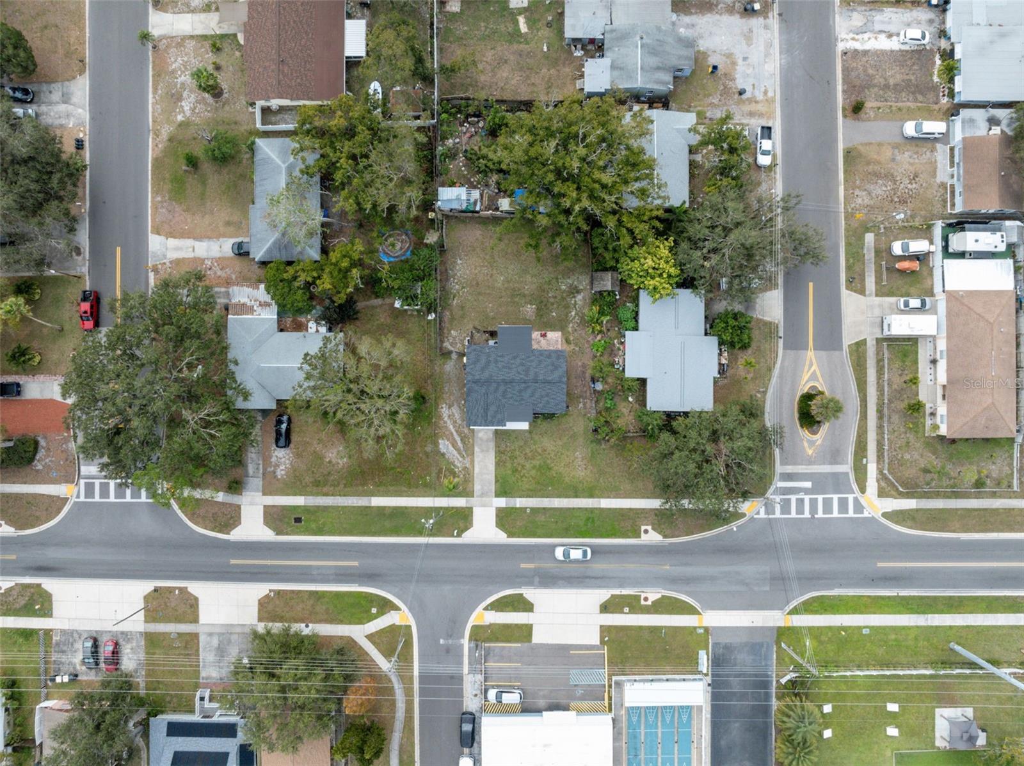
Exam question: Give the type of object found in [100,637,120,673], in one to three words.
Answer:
car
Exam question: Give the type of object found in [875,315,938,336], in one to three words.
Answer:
camper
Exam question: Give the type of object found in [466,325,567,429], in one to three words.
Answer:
house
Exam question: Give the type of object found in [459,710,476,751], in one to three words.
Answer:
car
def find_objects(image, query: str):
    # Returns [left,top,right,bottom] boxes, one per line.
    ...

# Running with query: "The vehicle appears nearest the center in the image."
[554,545,591,562]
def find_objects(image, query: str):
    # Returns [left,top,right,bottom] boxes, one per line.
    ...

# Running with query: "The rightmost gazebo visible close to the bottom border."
[935,708,987,749]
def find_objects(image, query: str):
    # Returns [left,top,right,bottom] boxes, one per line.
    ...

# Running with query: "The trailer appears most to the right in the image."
[941,225,1010,259]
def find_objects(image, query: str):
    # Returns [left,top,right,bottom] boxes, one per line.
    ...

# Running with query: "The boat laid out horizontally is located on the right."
[887,260,925,273]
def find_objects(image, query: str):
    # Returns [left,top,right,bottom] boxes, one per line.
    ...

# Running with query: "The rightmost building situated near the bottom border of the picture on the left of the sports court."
[482,709,612,766]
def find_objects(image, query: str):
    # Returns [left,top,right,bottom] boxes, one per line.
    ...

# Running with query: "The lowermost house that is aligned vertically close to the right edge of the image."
[935,259,1016,438]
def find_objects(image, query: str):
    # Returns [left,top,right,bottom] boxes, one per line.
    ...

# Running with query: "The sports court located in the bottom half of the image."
[613,680,704,766]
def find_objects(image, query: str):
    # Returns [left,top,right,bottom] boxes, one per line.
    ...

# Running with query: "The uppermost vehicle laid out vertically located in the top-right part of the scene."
[755,123,774,167]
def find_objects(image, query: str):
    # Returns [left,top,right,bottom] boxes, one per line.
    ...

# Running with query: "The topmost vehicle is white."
[897,27,931,45]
